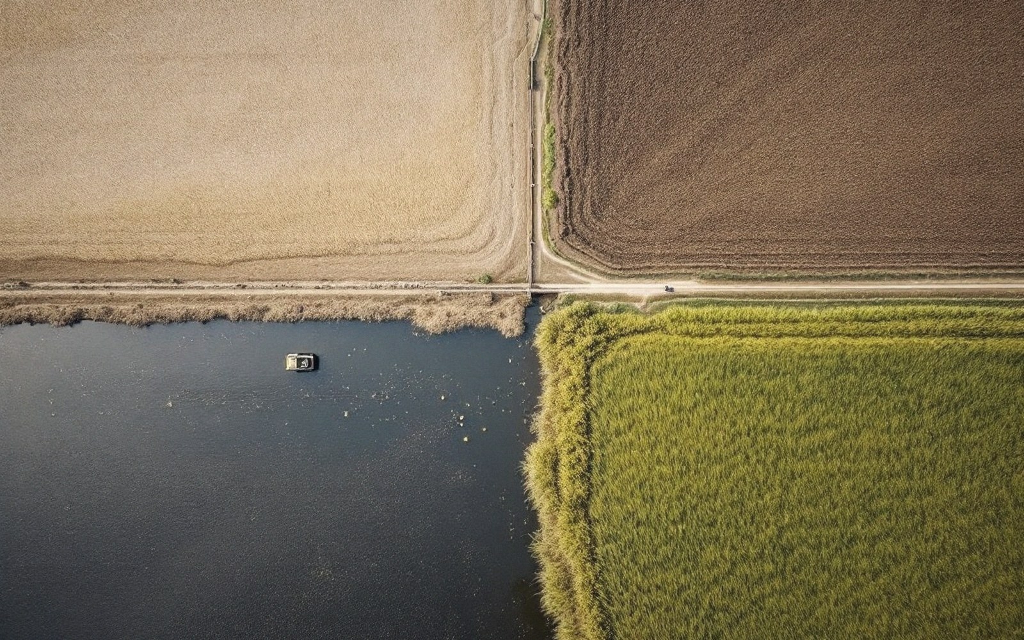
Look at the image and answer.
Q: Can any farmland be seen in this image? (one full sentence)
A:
Yes, the picture does contain farmland.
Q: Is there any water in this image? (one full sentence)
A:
Yes, some water is visible.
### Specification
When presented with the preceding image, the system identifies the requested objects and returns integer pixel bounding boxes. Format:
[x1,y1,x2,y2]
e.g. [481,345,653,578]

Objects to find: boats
[284,353,317,372]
